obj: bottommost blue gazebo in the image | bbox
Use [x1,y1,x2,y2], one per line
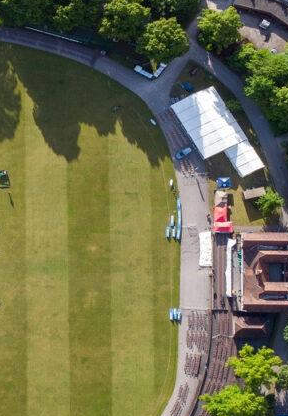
[216,177,230,189]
